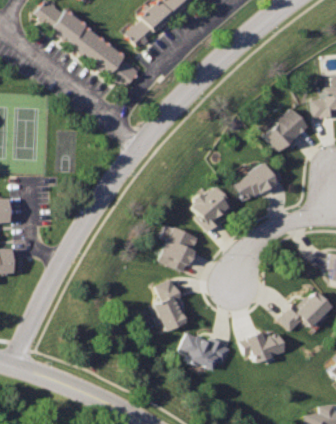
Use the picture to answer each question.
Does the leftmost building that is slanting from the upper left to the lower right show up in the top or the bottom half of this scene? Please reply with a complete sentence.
Seen from above, the leftmost building that is slanting from the upper left to the lower right lies in the top half of the view.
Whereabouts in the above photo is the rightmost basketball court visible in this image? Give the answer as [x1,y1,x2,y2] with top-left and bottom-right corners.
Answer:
[54,130,76,174]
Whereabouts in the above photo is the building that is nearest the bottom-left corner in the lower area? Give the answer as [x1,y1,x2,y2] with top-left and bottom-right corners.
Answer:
[0,248,16,274]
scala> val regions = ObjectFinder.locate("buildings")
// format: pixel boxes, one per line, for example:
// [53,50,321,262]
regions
[0,248,16,274]
[0,198,12,224]
[324,255,336,287]
[192,186,231,232]
[122,0,188,44]
[266,106,306,153]
[302,406,336,424]
[239,332,286,364]
[31,0,138,84]
[231,163,276,203]
[157,226,196,274]
[278,288,330,335]
[308,77,336,118]
[174,332,230,370]
[324,350,336,379]
[150,280,186,332]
